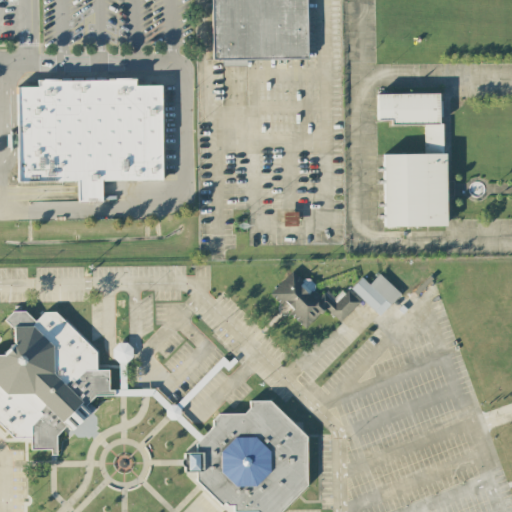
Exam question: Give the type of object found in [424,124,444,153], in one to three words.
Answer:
building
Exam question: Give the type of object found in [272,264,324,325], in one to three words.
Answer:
house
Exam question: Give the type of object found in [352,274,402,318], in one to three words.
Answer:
barn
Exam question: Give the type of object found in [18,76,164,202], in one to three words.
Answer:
building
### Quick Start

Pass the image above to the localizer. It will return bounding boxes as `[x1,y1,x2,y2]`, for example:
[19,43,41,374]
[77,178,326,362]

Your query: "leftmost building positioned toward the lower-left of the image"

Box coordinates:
[0,311,110,455]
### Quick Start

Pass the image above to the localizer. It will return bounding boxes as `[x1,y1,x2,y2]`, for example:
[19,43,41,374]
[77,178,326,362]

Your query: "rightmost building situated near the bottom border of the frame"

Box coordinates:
[199,400,308,512]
